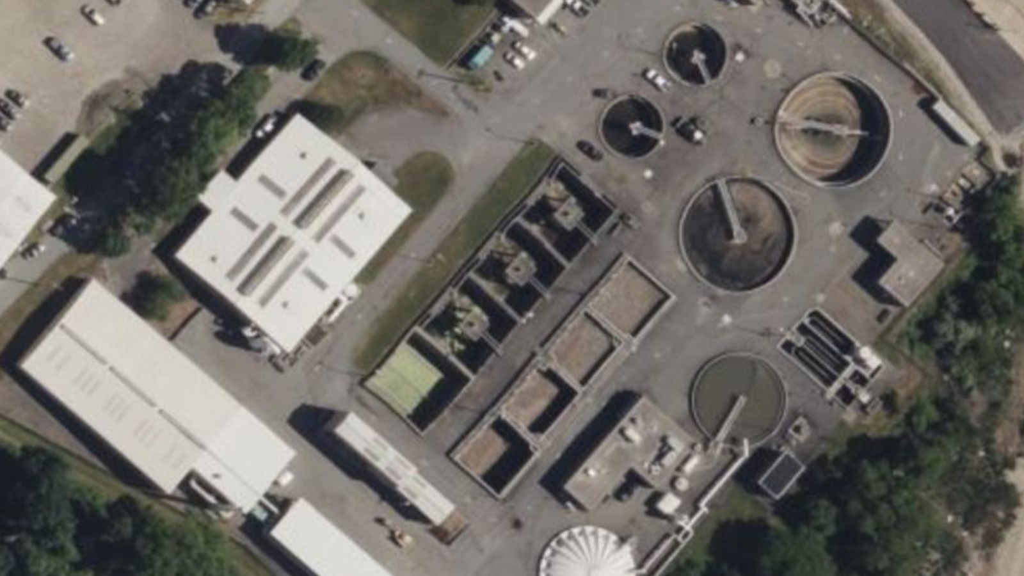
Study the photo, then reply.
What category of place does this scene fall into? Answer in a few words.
industrial area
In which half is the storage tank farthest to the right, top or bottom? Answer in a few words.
top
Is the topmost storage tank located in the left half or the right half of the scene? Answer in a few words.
right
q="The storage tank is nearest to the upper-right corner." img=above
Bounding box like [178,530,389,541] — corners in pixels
[774,72,890,188]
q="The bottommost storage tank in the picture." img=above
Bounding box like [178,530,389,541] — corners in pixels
[540,524,648,576]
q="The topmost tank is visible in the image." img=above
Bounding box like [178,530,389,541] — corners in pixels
[664,22,726,85]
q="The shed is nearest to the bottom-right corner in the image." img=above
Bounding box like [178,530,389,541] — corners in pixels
[751,451,805,499]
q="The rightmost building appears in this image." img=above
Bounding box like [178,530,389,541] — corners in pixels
[870,220,944,306]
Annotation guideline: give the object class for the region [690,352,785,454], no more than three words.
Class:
storage tank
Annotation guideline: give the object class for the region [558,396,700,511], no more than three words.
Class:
building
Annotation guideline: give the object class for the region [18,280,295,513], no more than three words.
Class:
shed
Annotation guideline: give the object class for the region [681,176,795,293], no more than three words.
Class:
storage tank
